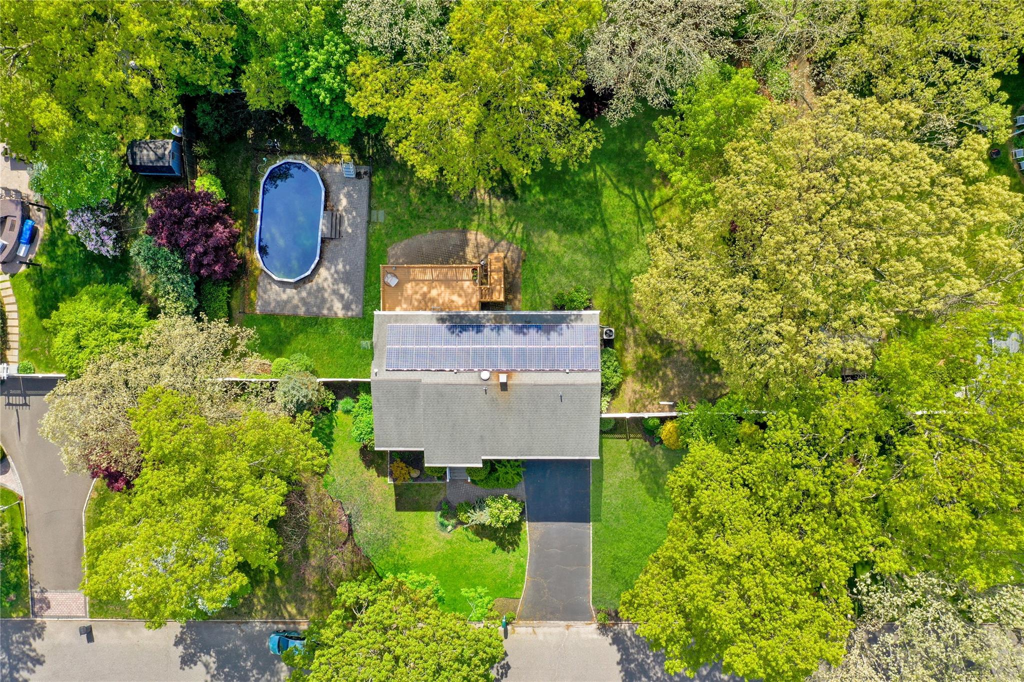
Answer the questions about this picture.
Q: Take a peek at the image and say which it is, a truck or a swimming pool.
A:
swimming pool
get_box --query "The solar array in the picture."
[385,325,599,373]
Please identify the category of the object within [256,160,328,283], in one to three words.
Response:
swimming pool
